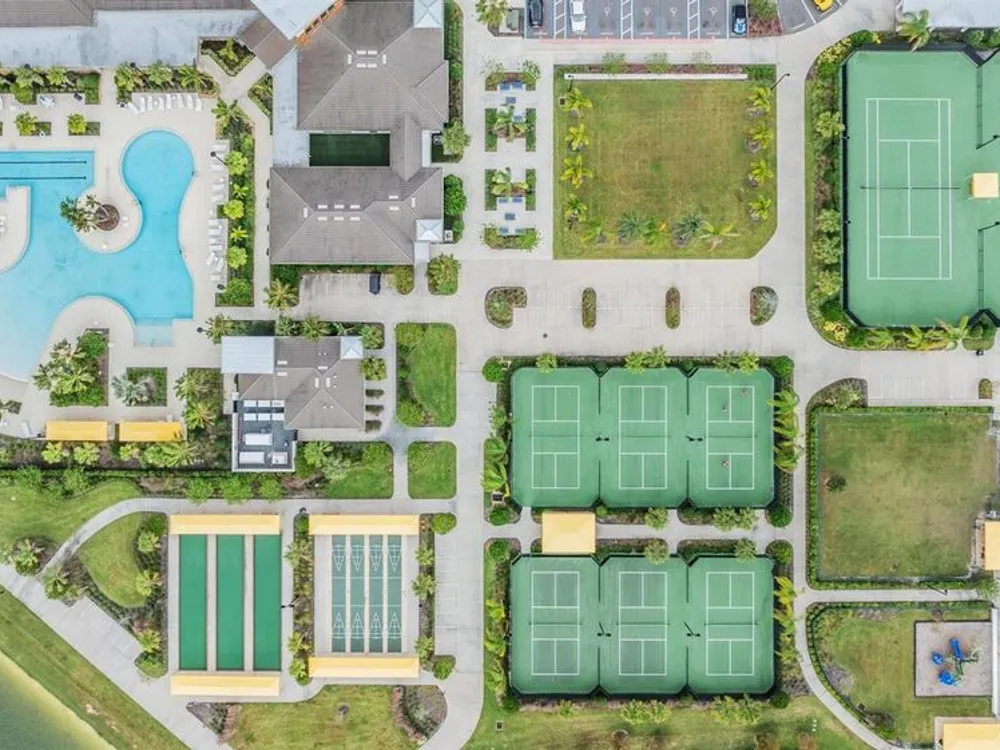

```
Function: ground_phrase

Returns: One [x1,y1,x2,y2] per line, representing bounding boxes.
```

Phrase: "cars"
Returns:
[528,0,545,27]
[814,0,833,11]
[569,0,587,35]
[731,3,749,36]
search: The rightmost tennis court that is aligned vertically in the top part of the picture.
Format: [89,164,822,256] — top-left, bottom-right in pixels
[979,51,1000,320]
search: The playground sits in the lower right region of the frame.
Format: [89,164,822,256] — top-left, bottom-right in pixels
[915,622,987,698]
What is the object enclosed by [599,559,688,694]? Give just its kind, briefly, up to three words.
sports court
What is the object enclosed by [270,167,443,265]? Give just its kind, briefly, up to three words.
building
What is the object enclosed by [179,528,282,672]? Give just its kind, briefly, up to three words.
sports court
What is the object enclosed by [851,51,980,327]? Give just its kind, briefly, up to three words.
tennis court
